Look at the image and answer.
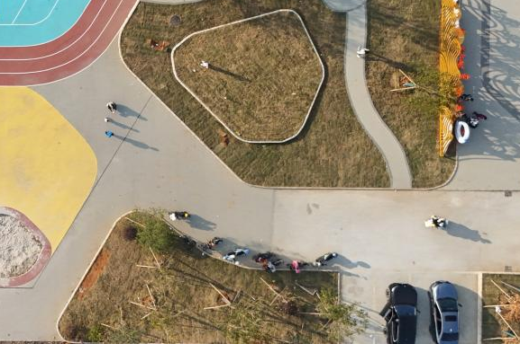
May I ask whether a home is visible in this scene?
No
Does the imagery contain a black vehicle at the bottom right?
Yes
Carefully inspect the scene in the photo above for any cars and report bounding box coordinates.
[375,283,422,344]
[425,281,463,344]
